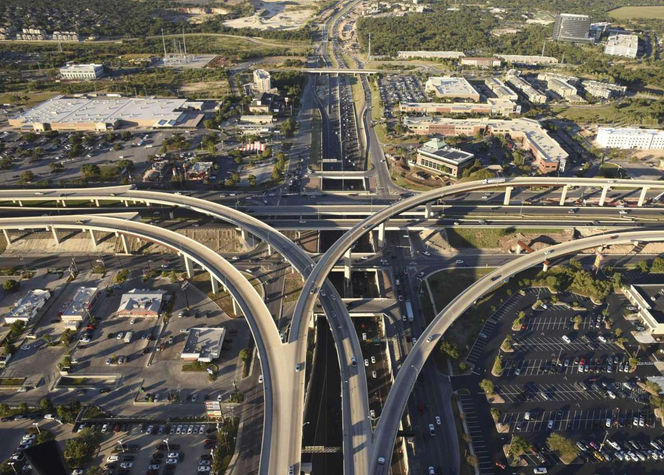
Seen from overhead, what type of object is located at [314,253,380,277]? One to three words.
bridge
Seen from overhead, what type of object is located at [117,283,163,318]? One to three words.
building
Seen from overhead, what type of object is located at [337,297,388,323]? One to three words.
bridge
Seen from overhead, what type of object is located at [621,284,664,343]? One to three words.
building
